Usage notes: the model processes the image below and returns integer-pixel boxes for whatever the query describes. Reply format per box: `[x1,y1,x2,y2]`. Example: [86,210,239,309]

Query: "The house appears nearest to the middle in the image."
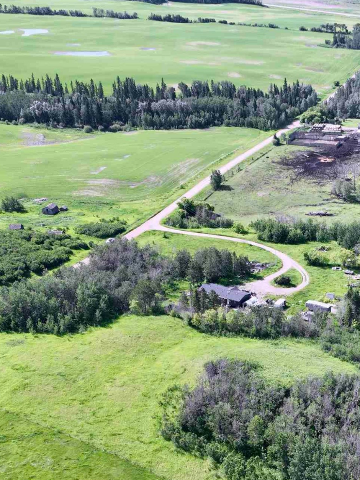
[192,280,252,308]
